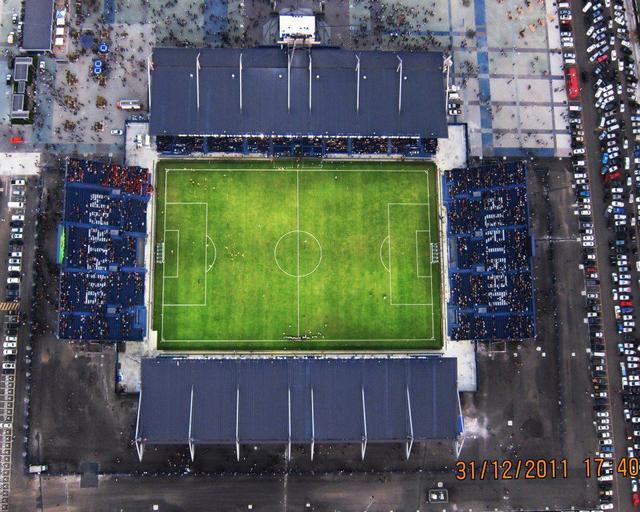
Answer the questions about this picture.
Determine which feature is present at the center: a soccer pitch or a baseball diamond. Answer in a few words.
soccer pitch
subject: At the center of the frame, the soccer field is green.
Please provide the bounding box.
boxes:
[152,160,442,351]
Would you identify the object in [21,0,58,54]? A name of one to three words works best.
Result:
building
